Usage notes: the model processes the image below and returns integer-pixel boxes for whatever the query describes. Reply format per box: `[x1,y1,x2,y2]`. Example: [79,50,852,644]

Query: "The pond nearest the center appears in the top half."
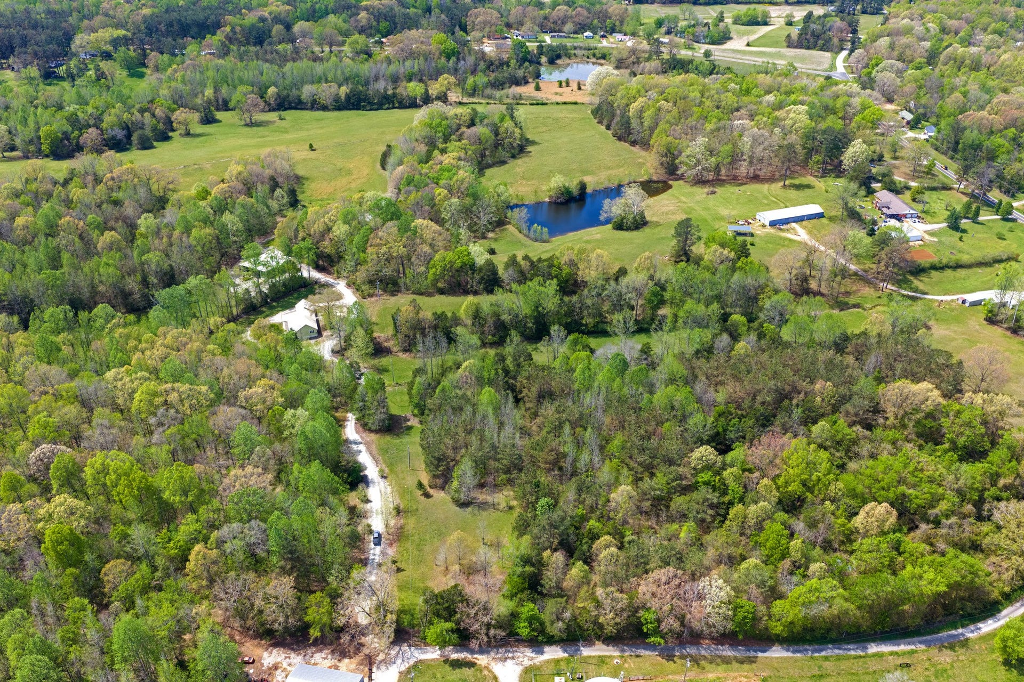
[500,179,677,240]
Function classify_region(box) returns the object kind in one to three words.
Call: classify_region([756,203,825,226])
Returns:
shed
